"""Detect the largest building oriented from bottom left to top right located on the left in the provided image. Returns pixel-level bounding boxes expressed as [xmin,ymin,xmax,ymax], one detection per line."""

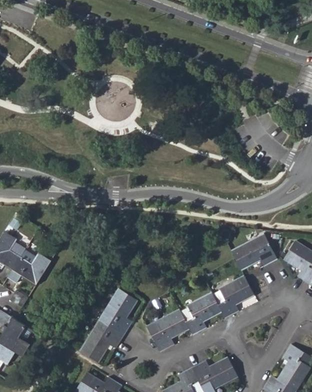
[80,288,138,364]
